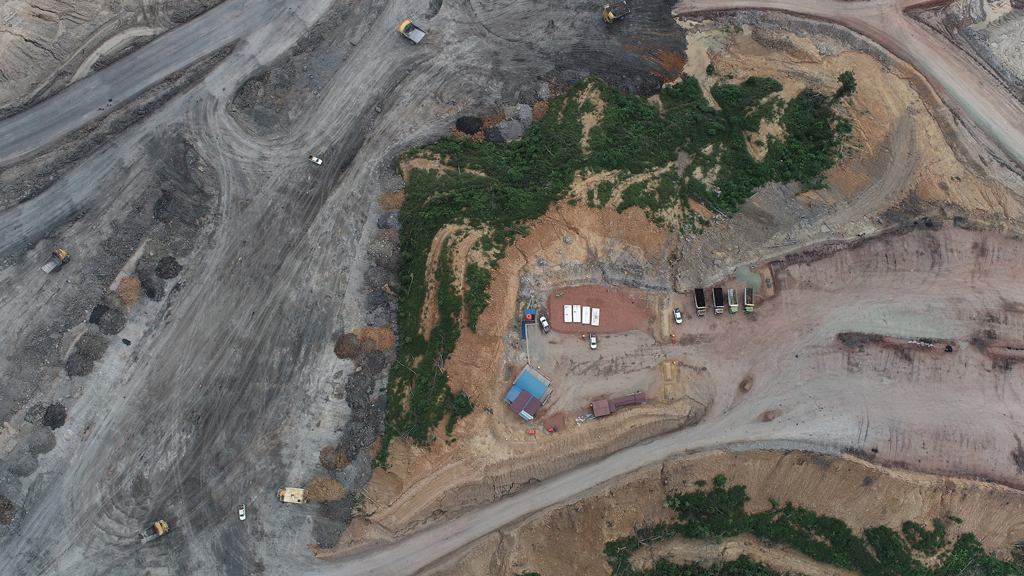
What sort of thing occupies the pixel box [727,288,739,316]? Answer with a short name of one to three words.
vehicle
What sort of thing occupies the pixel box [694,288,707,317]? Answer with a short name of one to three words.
vehicle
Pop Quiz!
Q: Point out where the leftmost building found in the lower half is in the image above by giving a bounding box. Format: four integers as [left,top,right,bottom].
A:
[505,364,552,421]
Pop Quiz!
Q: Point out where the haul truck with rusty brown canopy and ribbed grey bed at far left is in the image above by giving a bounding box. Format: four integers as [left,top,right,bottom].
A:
[40,249,73,276]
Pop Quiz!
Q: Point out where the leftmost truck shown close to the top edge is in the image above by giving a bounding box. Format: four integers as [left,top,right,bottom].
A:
[398,18,426,45]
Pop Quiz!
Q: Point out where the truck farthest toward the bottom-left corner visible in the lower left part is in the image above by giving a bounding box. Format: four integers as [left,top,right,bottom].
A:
[139,518,174,546]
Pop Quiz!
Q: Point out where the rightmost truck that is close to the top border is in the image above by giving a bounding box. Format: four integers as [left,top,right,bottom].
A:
[599,0,631,25]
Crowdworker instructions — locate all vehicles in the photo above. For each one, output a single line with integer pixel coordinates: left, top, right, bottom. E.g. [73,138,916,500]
[539,316,550,333]
[694,288,707,317]
[599,0,631,25]
[590,333,597,350]
[742,287,755,315]
[727,288,739,316]
[238,503,246,521]
[308,154,323,165]
[712,288,724,316]
[277,487,309,505]
[139,518,174,546]
[398,18,426,45]
[673,308,682,324]
[40,249,73,276]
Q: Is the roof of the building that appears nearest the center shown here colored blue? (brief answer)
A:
Yes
